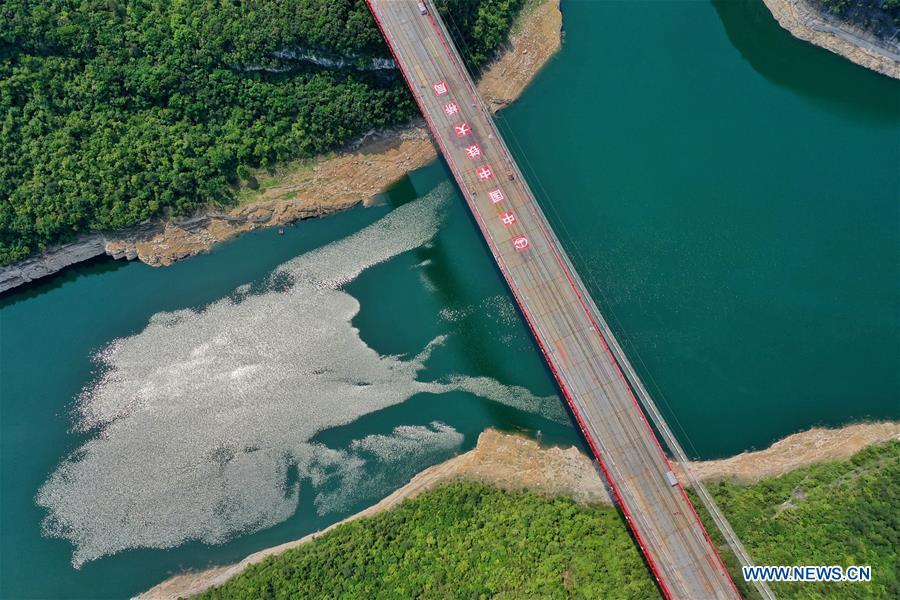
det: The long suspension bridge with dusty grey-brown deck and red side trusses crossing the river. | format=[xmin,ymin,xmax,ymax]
[366,0,773,600]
